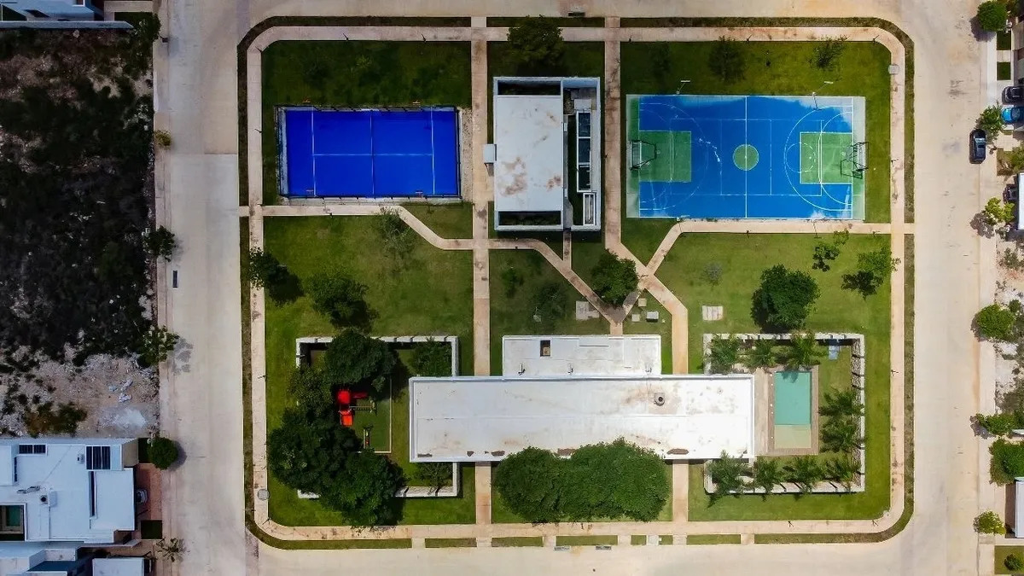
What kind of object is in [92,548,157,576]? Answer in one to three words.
building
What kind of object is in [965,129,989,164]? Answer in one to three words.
car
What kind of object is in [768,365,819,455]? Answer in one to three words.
swimming pool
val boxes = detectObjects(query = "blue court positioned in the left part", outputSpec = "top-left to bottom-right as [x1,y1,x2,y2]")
[277,103,462,204]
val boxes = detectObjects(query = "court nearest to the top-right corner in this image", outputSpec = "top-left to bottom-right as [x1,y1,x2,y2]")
[627,94,865,219]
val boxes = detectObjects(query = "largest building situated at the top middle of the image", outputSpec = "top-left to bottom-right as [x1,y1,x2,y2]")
[483,77,600,232]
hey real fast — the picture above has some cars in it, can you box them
[136,488,146,505]
[1003,86,1019,105]
[965,129,989,164]
[1003,105,1019,123]
[992,185,1016,202]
